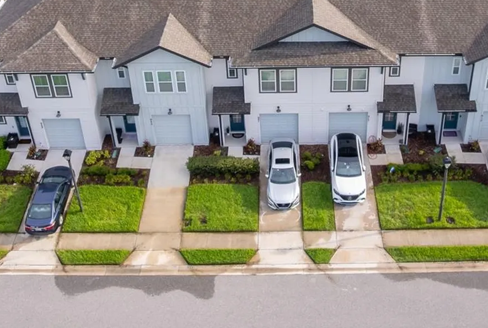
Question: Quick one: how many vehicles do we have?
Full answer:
In total, 3 vehicles can be seen.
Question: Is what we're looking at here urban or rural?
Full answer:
The area is urban.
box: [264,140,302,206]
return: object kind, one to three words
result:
car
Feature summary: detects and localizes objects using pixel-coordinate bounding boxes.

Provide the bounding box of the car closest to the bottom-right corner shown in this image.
[329,133,368,200]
